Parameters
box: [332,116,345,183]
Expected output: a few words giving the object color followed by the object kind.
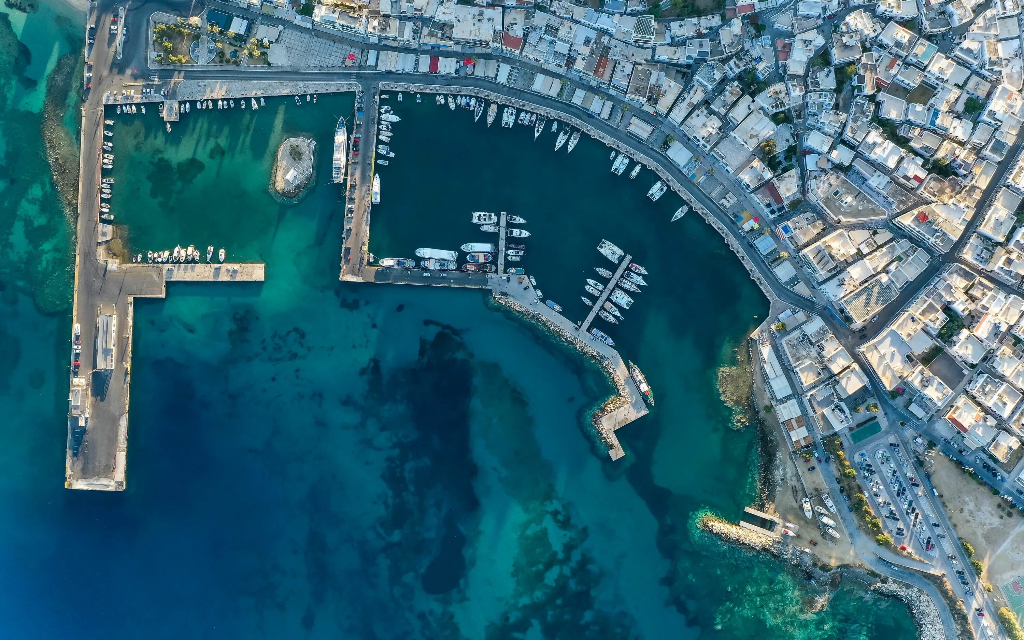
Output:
white ship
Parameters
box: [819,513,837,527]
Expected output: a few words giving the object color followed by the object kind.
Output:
white boat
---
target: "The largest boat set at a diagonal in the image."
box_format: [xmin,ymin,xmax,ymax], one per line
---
[629,362,657,403]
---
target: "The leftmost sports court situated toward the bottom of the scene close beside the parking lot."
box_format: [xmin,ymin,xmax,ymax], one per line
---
[846,420,887,449]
